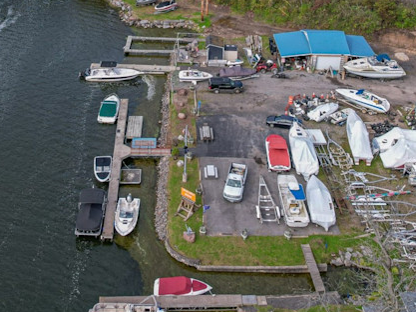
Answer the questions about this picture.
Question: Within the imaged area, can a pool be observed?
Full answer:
No, no pool can be seen from above.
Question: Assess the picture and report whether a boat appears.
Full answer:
Yes, you can see a boat in this photo.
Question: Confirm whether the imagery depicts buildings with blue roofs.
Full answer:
Yes, there is a building with a blue roof in the image.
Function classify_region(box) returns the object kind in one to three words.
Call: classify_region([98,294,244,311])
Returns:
pier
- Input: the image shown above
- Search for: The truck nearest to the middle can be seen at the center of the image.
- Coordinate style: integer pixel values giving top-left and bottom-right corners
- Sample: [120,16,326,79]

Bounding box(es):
[221,159,246,202]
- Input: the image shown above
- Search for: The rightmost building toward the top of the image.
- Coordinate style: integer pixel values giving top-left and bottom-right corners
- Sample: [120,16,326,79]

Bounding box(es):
[272,30,376,72]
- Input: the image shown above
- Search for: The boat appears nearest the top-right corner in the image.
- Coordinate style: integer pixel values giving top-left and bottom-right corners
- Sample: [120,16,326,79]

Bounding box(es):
[344,57,406,84]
